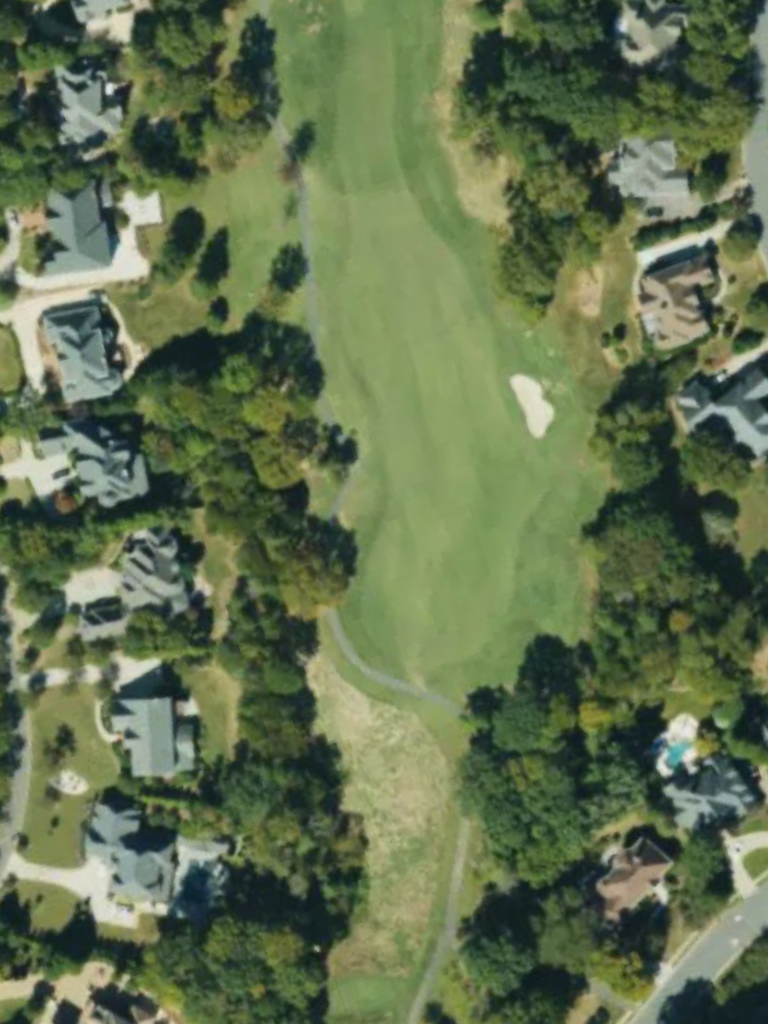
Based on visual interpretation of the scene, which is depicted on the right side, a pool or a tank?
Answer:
pool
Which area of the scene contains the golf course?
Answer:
center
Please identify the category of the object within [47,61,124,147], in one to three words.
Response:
house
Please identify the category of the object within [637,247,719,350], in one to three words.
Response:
house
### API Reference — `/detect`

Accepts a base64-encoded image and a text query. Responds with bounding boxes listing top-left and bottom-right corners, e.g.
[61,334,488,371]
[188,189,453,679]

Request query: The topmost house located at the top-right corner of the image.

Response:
[621,0,687,62]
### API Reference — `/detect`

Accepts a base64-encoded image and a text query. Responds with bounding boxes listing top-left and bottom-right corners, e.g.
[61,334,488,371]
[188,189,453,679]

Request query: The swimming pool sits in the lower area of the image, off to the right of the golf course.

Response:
[666,739,694,774]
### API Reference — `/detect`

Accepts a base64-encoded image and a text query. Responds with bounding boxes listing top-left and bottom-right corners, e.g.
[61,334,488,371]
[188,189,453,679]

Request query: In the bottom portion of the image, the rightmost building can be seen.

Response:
[663,760,758,830]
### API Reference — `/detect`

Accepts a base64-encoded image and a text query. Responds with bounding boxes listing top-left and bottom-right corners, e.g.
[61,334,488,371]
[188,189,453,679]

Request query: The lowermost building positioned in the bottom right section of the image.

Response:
[593,834,677,927]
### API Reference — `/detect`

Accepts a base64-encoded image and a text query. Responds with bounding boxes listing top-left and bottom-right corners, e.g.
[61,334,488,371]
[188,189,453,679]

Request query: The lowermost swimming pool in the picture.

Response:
[183,858,220,905]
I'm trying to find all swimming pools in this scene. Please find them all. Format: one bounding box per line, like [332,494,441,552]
[666,739,694,774]
[183,858,220,905]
